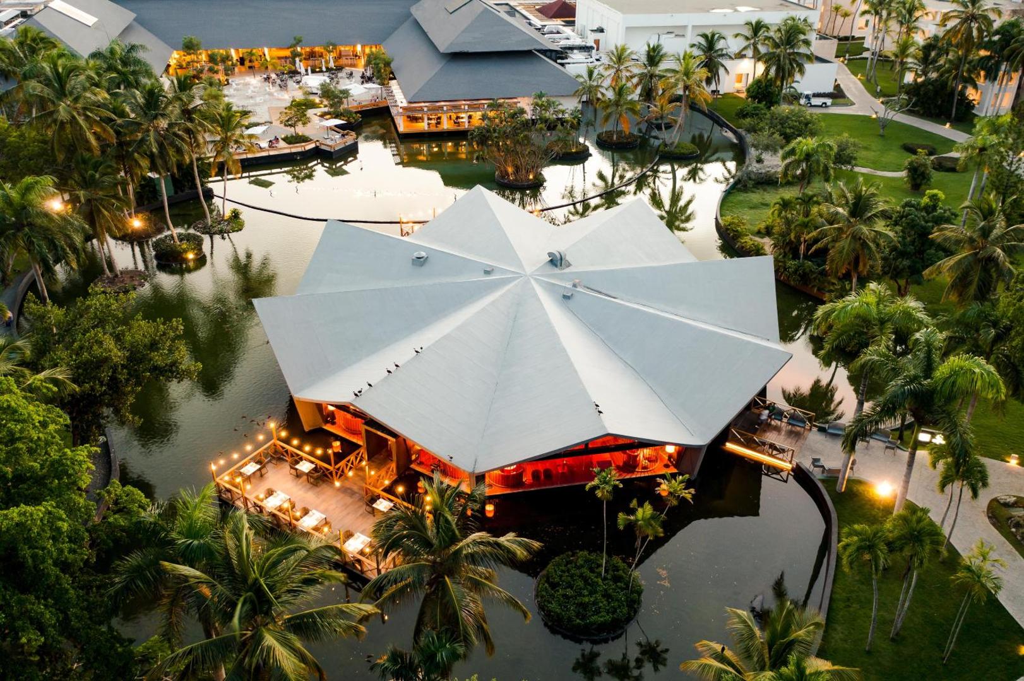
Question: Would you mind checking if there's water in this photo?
Yes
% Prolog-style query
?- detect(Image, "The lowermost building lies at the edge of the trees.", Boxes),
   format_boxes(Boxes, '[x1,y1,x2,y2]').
[254,184,789,501]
